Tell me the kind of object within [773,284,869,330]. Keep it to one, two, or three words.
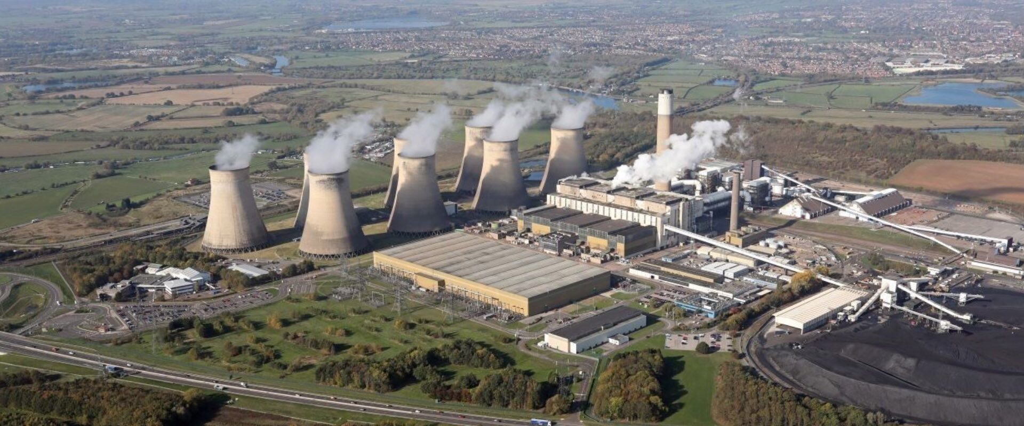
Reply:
shed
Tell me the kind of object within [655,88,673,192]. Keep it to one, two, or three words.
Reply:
chimney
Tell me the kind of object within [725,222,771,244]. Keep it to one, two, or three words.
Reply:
building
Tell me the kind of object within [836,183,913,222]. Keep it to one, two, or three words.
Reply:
barn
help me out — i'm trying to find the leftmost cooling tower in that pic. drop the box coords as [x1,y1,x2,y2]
[201,162,275,257]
